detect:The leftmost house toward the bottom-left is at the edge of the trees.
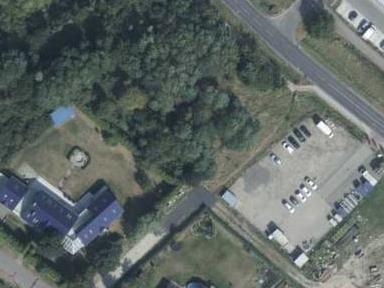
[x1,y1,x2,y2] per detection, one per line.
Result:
[0,170,124,255]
